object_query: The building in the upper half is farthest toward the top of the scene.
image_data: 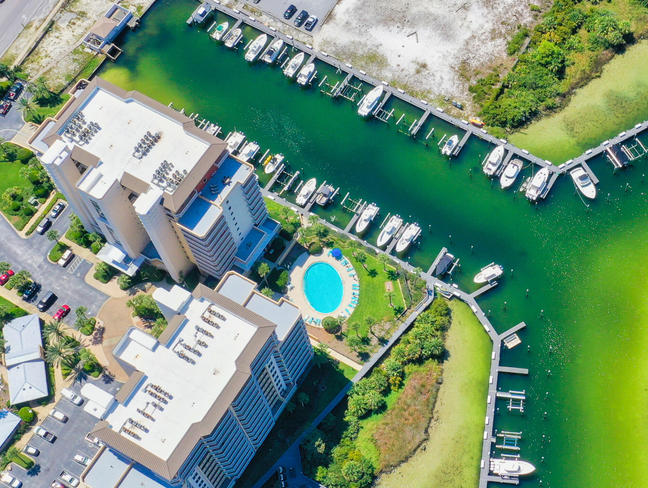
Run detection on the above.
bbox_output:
[83,4,133,55]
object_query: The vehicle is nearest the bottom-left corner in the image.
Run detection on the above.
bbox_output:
[1,472,22,488]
